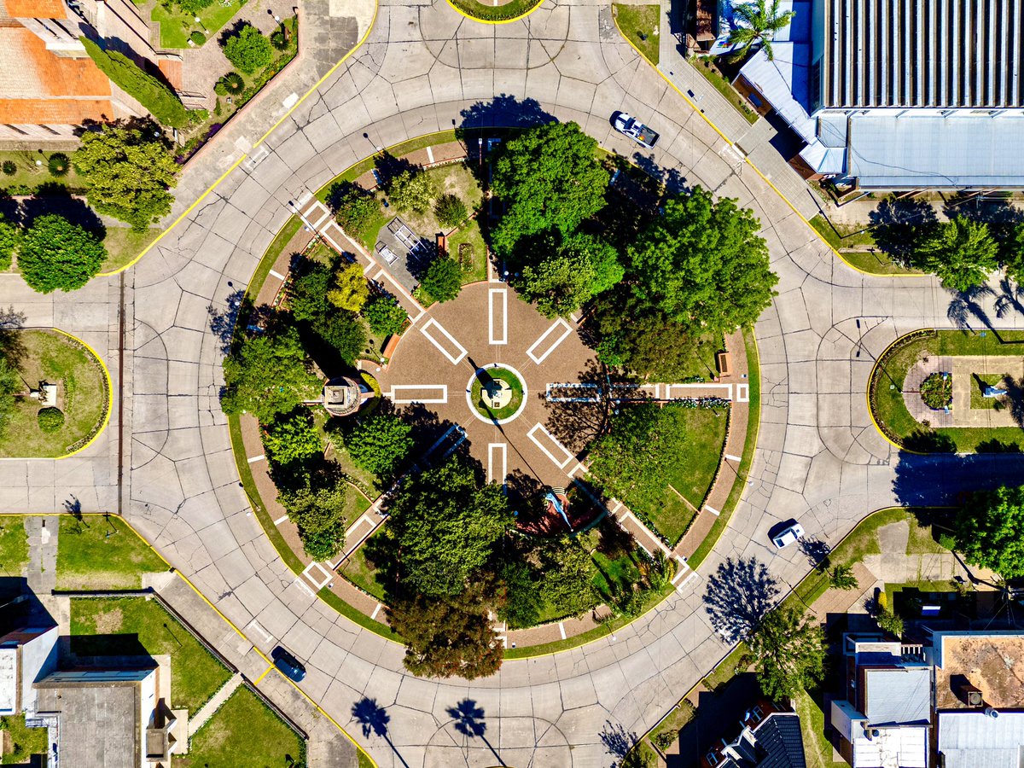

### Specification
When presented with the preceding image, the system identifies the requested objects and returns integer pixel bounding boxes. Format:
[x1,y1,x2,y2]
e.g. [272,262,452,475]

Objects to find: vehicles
[272,652,308,684]
[615,112,661,147]
[774,526,809,551]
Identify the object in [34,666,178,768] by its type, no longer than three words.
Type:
building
